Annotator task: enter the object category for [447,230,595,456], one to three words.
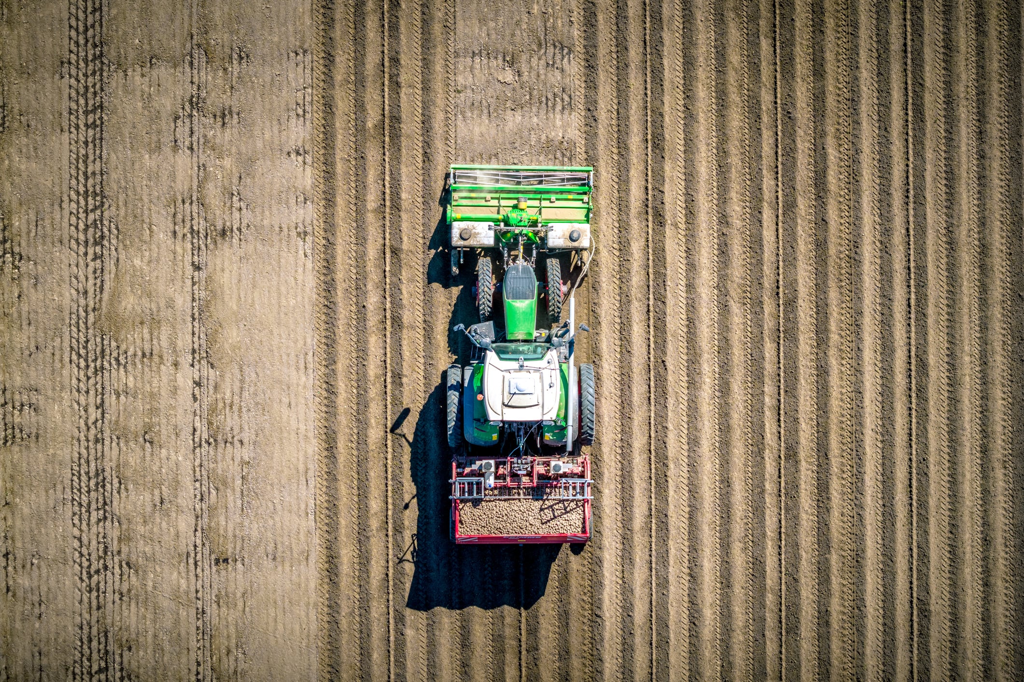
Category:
work vehicle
